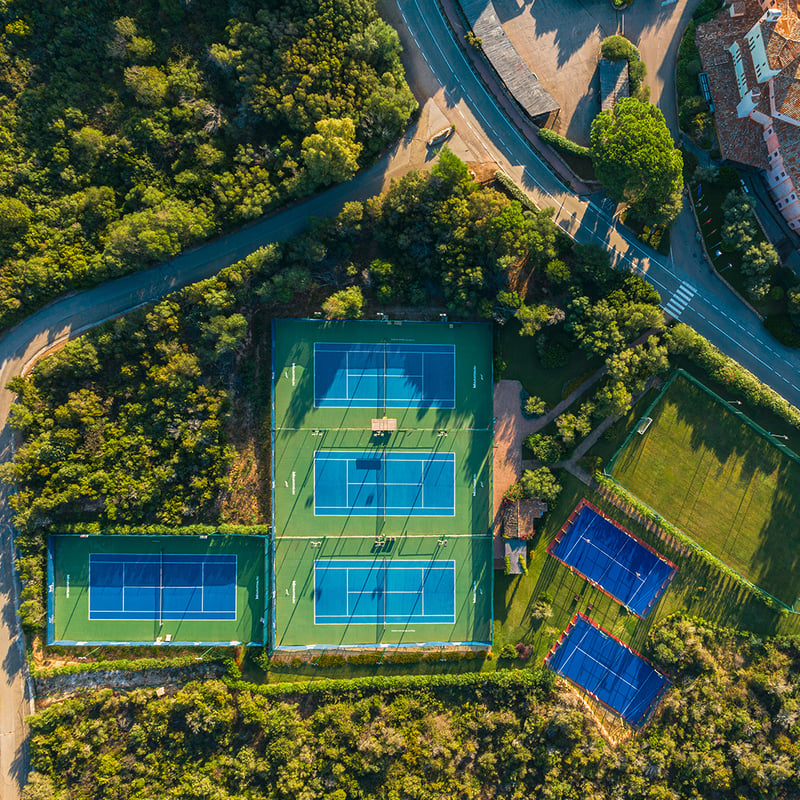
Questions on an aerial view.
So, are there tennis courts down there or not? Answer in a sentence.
Yes, the photo shows a tennis court.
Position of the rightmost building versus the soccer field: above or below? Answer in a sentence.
Looking at the photo, you'll find the rightmost building above the soccer field.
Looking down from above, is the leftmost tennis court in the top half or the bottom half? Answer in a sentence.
Seen from above, the leftmost tennis court lies in the bottom half of the view.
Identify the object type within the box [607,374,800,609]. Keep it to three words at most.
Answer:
soccer field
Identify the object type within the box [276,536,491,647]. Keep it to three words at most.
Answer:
tennis court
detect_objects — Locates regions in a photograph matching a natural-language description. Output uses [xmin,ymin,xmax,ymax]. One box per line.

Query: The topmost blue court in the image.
[275,322,491,429]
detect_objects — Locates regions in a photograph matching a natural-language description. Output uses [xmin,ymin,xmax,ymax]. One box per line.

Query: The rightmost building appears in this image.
[695,0,800,252]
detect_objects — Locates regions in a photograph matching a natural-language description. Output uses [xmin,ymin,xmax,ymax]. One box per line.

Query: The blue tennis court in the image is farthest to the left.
[54,538,267,644]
